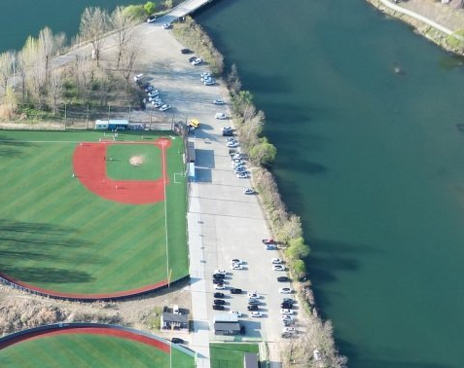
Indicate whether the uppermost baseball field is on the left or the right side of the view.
left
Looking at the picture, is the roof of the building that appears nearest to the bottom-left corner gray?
Yes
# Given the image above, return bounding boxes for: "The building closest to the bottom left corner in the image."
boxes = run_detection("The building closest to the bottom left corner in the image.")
[164,309,189,332]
